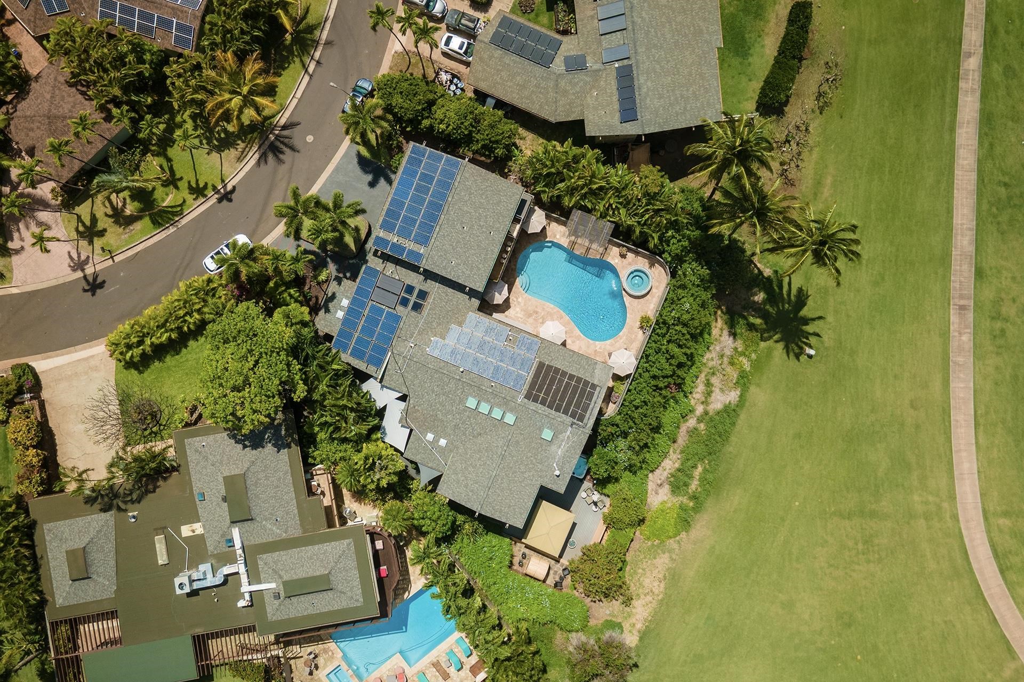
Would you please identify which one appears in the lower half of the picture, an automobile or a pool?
pool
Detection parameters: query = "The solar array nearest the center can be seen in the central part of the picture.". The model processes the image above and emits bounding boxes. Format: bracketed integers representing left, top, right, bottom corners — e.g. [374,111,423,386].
[427,314,540,387]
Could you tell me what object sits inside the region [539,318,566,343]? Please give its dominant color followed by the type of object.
white umbrella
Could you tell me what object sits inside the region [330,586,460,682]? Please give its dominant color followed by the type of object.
blue swimming pool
